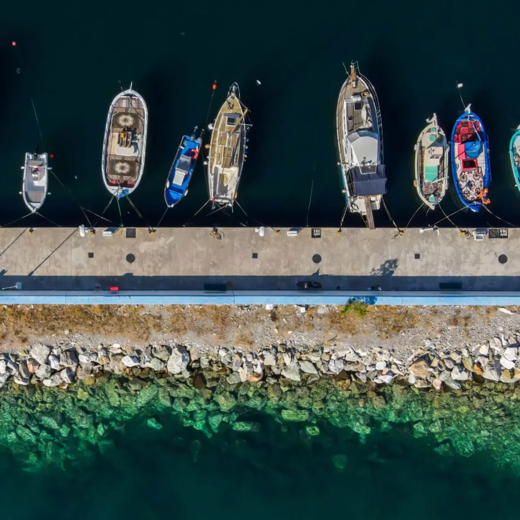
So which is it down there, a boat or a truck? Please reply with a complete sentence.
There is a boat in the scene.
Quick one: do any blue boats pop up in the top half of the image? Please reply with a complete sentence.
Yes, a blue boat can be seen in the top half of the image.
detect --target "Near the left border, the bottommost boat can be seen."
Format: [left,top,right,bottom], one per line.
[24,140,49,213]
